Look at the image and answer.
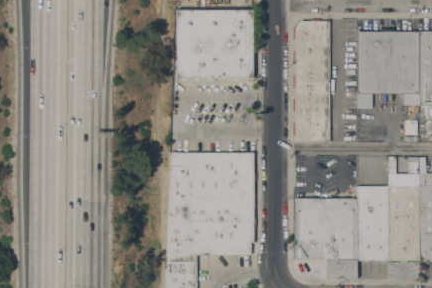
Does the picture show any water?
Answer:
No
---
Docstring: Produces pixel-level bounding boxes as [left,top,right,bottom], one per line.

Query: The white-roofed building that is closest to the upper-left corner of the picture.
[176,9,254,79]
